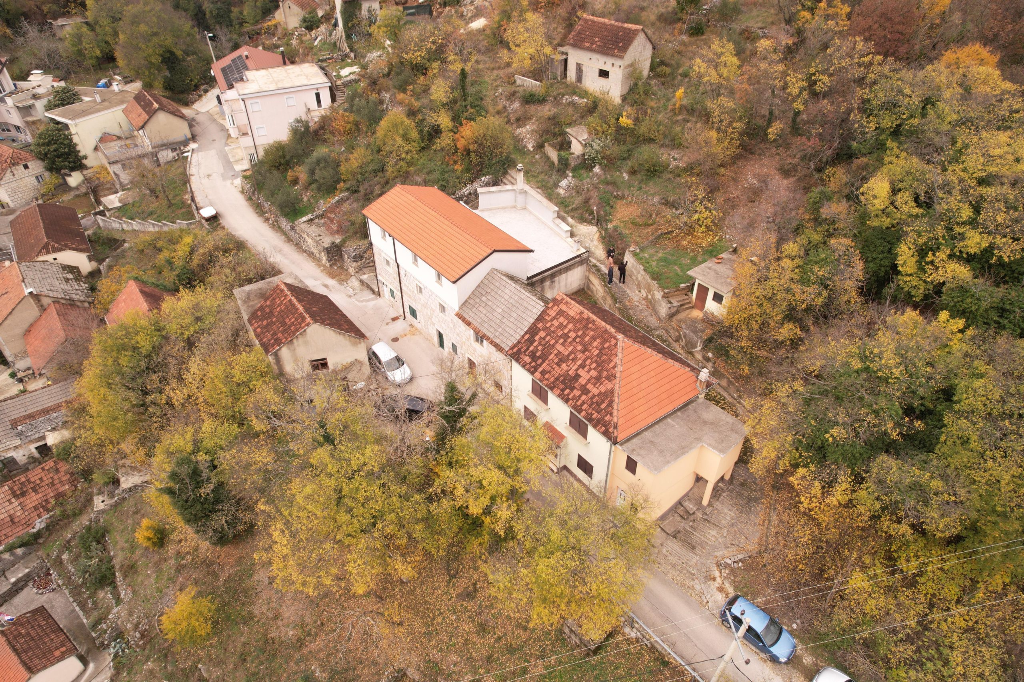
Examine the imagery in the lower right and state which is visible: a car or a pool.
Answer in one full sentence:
You can see a car in the lower right.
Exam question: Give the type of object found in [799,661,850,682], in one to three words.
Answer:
car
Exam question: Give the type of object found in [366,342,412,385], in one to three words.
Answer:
car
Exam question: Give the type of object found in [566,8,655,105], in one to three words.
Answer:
building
